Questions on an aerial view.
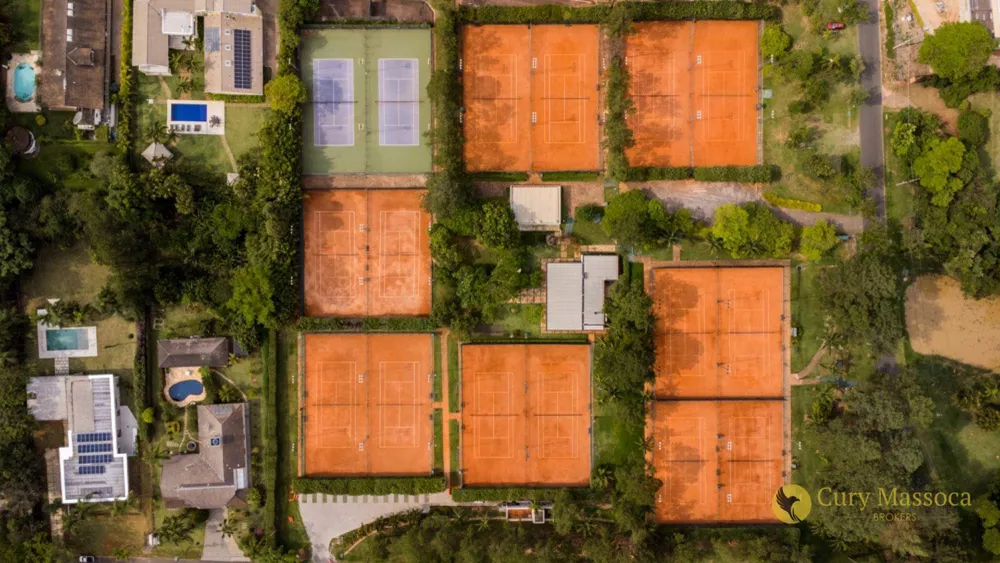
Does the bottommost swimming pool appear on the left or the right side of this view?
left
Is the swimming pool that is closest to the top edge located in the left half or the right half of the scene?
left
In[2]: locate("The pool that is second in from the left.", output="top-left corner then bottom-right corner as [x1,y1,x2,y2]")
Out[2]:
[37,318,98,358]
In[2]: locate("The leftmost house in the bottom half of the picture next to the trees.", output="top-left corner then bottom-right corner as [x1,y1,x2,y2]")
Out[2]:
[27,374,140,503]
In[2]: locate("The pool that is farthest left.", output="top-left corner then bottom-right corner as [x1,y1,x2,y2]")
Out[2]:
[7,50,41,112]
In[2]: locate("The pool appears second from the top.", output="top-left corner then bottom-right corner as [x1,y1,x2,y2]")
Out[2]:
[167,100,225,135]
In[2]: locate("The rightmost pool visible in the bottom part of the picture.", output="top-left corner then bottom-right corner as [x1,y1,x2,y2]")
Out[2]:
[163,367,206,407]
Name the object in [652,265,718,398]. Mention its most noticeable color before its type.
orange tennis court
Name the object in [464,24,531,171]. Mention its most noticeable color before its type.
orange tennis court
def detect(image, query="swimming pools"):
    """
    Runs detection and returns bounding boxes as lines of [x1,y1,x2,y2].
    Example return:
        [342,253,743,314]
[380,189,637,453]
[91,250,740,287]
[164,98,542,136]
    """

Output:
[167,100,225,135]
[163,367,206,407]
[7,50,41,112]
[37,318,98,358]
